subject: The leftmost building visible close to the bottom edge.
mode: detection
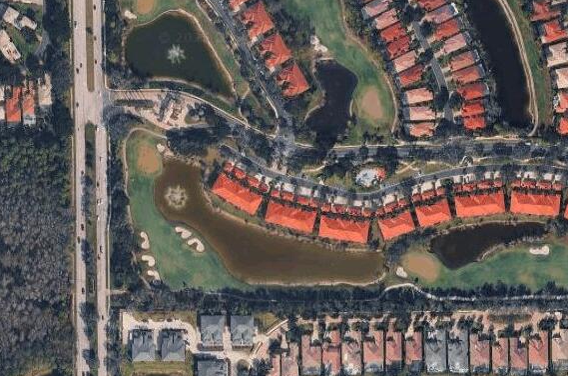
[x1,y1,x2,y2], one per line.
[131,329,154,361]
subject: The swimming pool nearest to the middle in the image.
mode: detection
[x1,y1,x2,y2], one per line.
[355,167,379,187]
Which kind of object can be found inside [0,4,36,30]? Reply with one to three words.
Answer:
house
